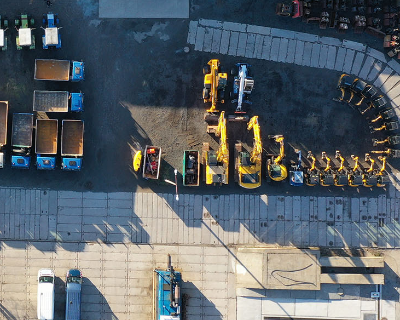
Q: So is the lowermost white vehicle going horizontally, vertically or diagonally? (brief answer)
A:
vertically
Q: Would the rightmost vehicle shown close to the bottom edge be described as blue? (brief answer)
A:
Yes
